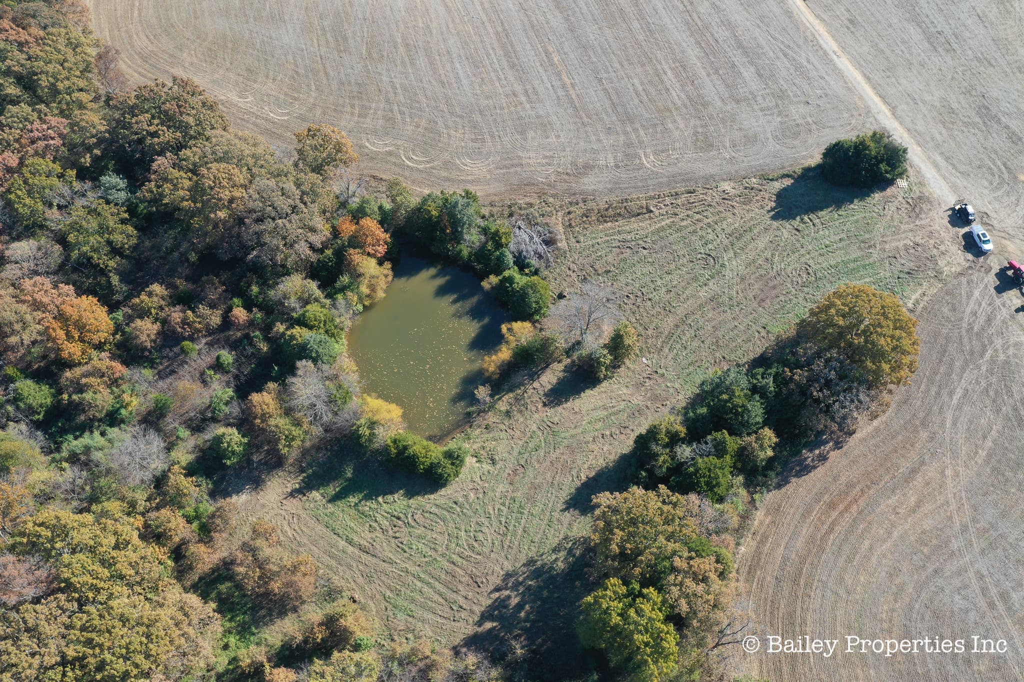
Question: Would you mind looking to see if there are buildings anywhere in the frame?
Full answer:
No, no building is visible in the view.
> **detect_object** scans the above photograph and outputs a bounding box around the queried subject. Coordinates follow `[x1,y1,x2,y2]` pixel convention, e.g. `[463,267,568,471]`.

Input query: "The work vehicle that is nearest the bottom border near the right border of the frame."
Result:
[999,259,1024,282]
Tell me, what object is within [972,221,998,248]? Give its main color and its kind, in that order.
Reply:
white truck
